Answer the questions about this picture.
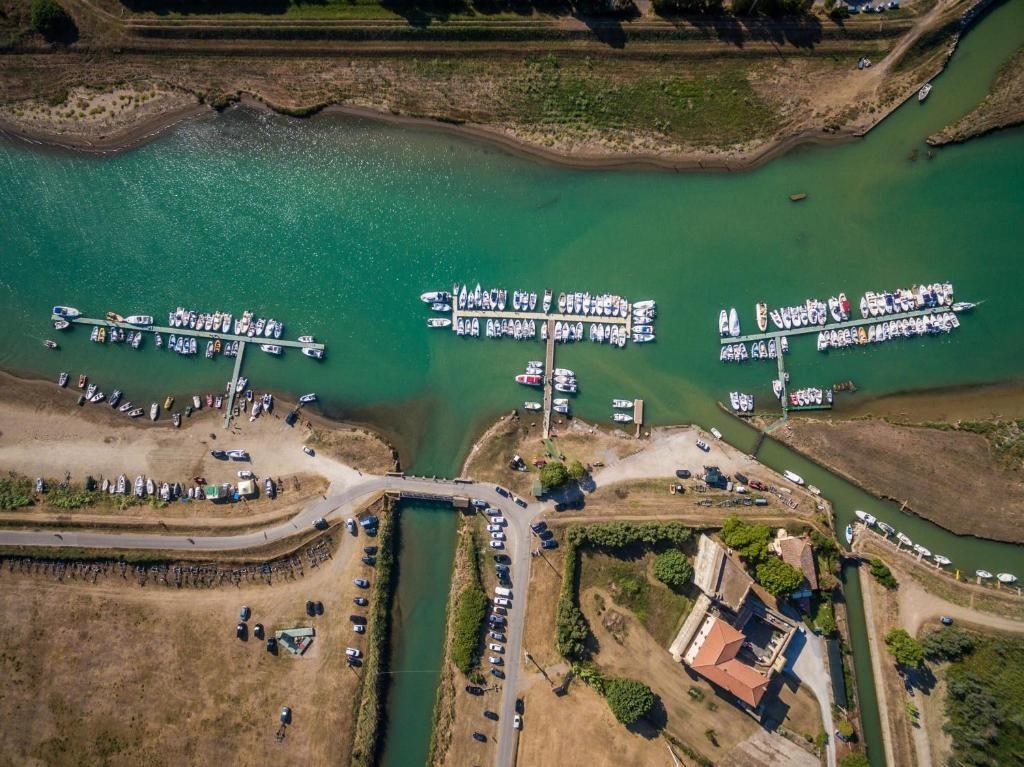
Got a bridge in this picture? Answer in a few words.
Yes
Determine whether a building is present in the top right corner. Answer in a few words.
No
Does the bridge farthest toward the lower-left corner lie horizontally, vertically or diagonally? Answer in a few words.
horizontally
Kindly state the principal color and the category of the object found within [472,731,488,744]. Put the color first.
black vehicle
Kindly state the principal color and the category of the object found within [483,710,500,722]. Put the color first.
black vehicle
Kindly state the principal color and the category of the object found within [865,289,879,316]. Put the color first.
white boat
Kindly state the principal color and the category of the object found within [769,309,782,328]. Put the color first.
white boat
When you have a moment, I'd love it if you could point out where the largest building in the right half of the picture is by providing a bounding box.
[666,529,799,712]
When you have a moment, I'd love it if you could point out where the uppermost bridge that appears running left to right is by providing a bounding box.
[384,472,472,508]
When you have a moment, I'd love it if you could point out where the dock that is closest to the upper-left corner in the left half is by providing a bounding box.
[51,315,324,419]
